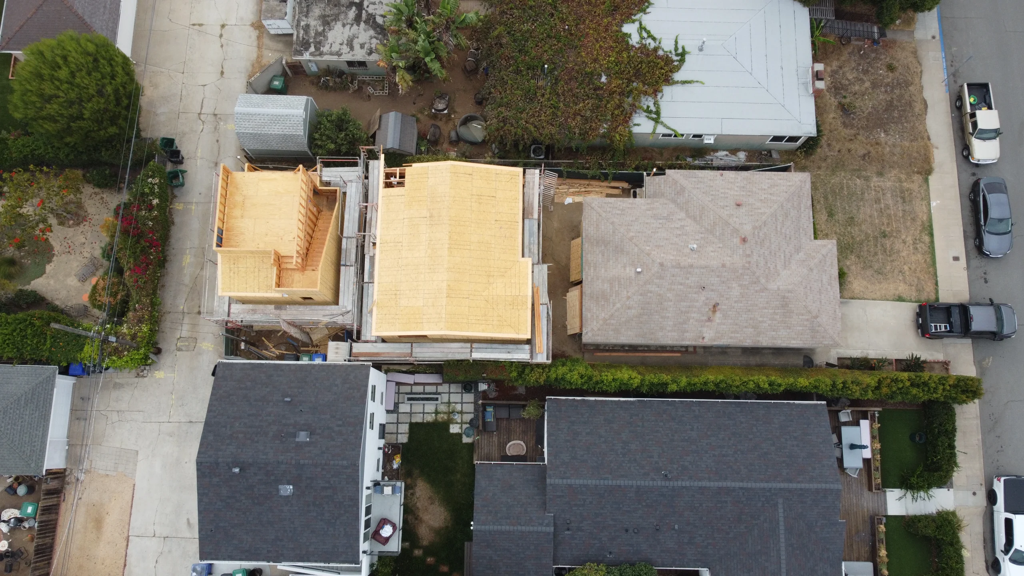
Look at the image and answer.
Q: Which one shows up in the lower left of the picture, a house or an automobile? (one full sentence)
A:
The one visible in the lower left of the picture is a house.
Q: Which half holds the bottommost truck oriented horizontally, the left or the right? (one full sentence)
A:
It is on the right.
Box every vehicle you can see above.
[988,471,1024,576]
[955,85,1004,165]
[969,178,1017,258]
[911,298,1019,346]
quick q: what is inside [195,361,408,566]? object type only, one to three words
house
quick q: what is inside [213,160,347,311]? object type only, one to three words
building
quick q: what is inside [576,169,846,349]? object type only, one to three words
house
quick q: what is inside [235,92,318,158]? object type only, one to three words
shed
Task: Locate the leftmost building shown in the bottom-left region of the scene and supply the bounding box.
[0,363,76,477]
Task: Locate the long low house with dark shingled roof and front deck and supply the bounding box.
[540,396,846,576]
